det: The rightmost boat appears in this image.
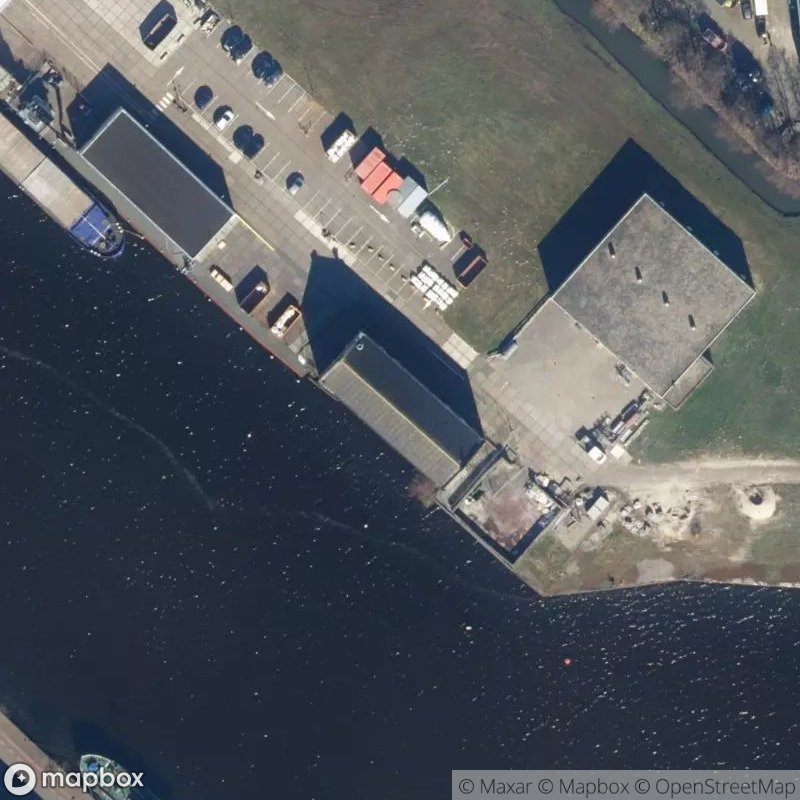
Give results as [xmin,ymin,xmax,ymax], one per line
[420,212,452,242]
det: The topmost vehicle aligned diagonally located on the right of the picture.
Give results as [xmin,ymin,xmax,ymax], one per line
[703,25,728,51]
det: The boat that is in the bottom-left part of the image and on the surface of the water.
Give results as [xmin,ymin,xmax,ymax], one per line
[78,752,144,800]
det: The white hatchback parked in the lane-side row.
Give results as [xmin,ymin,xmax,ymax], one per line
[213,109,234,131]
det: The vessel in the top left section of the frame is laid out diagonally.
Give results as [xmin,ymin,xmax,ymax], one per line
[0,103,146,259]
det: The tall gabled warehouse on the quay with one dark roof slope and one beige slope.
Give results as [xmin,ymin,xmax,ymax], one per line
[318,329,486,489]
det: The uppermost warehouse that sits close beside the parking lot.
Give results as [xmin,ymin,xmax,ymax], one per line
[80,105,234,259]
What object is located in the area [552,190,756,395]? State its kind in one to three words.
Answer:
warehouse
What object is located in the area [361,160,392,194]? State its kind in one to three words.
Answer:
shipping container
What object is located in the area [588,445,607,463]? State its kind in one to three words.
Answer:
vehicle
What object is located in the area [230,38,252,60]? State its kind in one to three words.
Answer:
car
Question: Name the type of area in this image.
port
